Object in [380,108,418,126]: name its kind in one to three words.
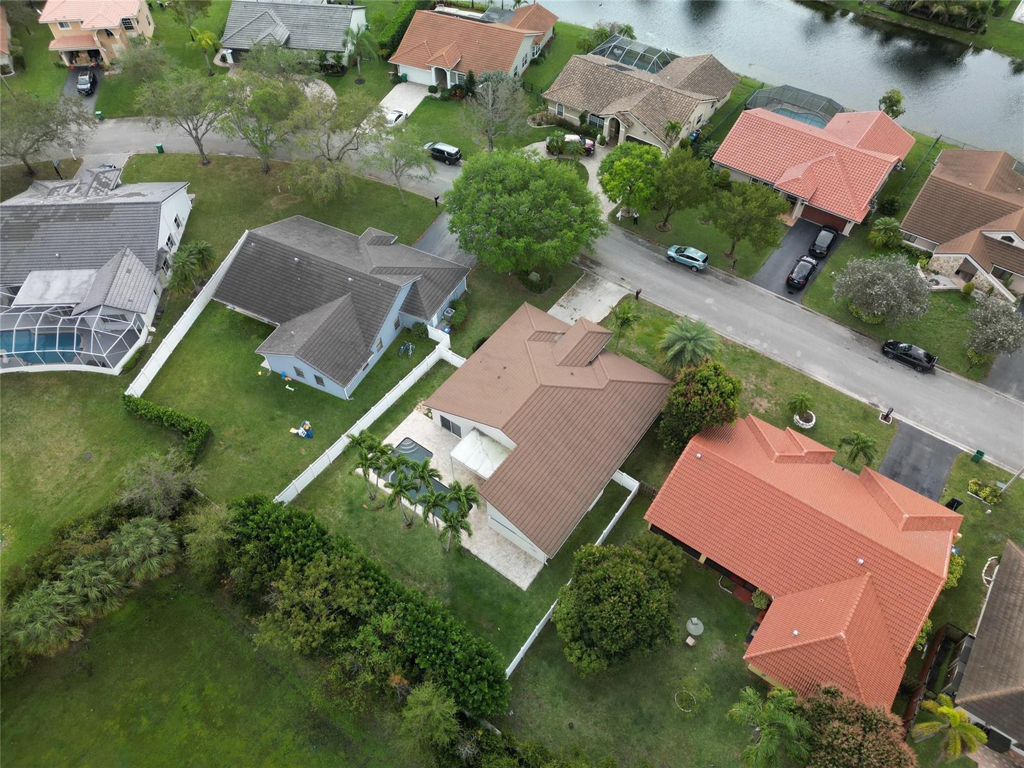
car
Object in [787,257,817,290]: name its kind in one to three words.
car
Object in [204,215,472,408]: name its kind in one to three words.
house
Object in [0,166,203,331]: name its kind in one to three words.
building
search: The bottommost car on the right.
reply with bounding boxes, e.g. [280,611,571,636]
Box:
[881,341,942,374]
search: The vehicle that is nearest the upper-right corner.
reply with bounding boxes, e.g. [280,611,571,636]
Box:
[806,228,836,260]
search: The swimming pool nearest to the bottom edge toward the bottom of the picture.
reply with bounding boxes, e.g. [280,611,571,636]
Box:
[373,436,473,523]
